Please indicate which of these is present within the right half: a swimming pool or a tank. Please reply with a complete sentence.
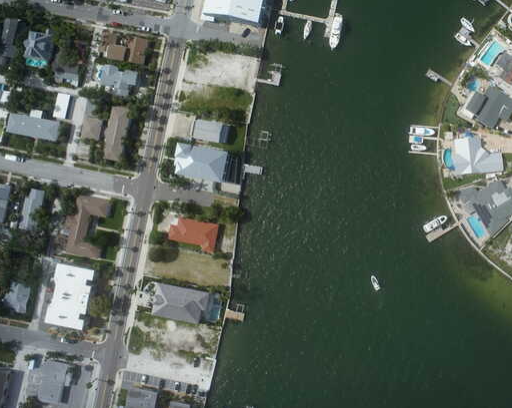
There is a swimming pool within the right half.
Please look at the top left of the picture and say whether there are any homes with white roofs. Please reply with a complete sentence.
Yes, looking at the top left of the picture, one can make out a home with a white roof.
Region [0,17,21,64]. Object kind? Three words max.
house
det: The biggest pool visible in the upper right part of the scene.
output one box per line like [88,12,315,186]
[479,39,506,66]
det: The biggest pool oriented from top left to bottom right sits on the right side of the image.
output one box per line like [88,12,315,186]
[466,215,487,239]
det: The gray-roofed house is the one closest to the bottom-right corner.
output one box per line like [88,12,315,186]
[461,179,512,238]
